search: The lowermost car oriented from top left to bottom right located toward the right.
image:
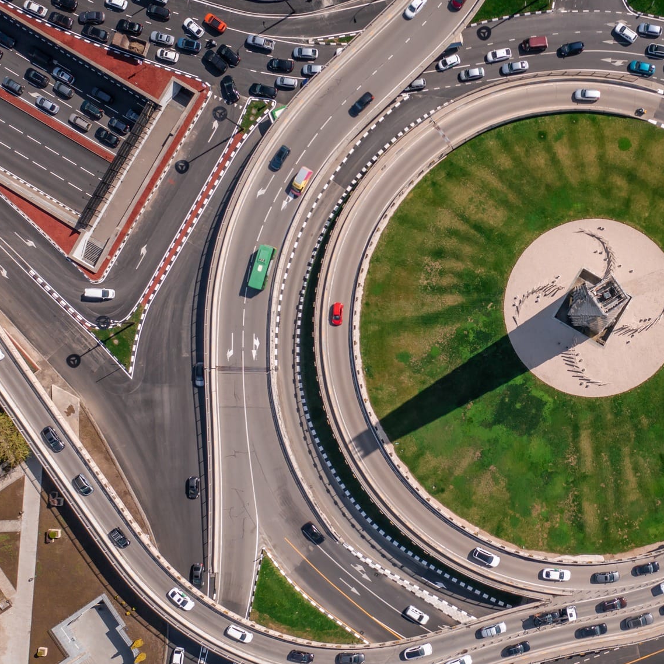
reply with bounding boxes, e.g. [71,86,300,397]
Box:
[405,606,428,624]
